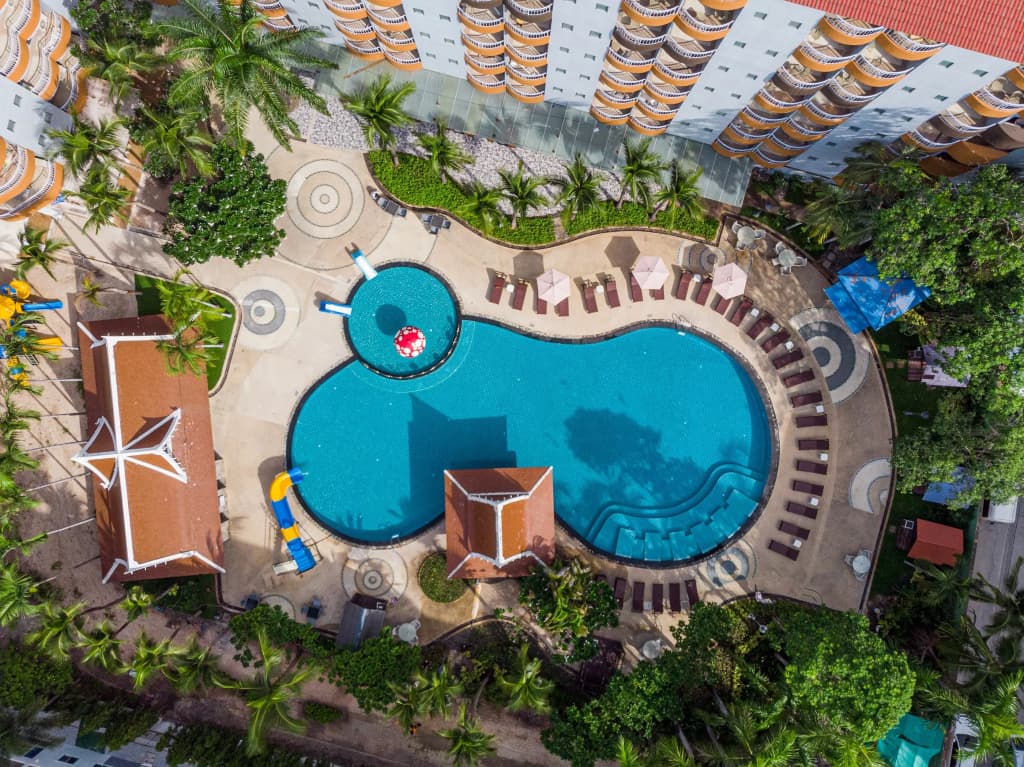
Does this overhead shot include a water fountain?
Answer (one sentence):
Yes, the frame does contain a water fountain.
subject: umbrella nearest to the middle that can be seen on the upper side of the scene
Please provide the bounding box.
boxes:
[537,270,569,305]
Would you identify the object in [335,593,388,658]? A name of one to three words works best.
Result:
shed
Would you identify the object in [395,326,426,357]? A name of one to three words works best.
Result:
fountain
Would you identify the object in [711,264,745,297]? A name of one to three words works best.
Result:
umbrella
